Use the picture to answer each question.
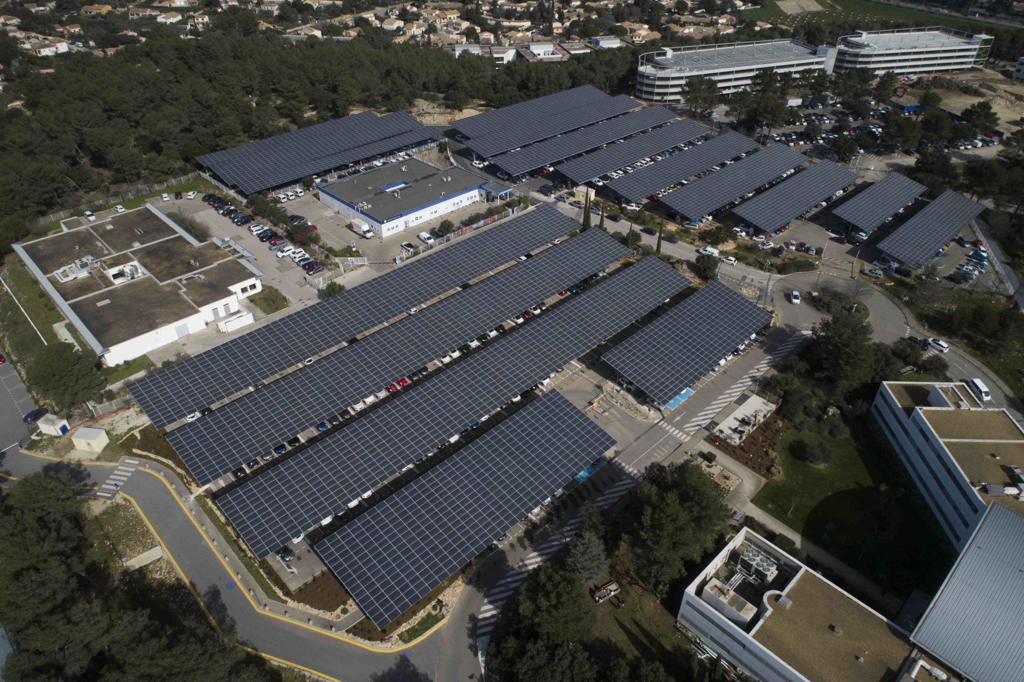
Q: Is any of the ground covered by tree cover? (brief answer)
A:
Yes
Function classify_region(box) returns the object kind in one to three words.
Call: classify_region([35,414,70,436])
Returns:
shed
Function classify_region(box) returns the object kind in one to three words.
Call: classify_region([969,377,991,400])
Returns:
vehicle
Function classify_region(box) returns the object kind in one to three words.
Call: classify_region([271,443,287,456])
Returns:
vehicle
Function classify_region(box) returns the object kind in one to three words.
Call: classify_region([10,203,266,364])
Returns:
building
